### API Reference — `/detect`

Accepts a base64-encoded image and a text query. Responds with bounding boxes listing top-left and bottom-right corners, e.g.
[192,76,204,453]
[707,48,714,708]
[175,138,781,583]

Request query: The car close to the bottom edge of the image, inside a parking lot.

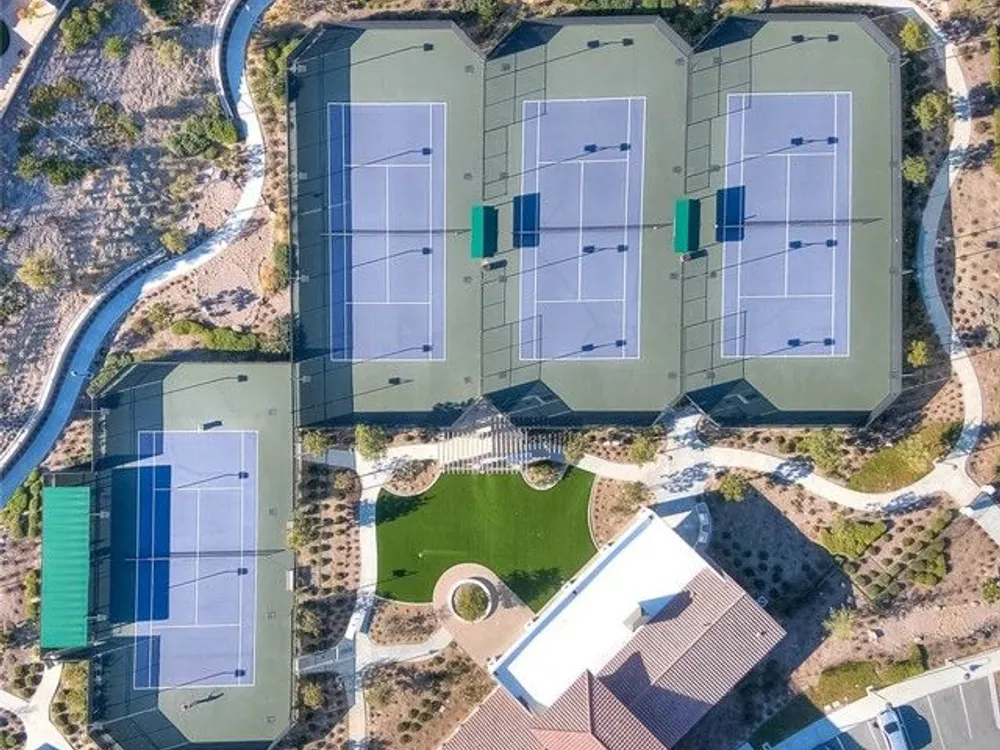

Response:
[875,708,906,750]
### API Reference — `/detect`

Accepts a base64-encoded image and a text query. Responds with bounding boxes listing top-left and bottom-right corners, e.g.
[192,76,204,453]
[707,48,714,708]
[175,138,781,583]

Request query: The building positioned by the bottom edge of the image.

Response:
[429,509,786,750]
